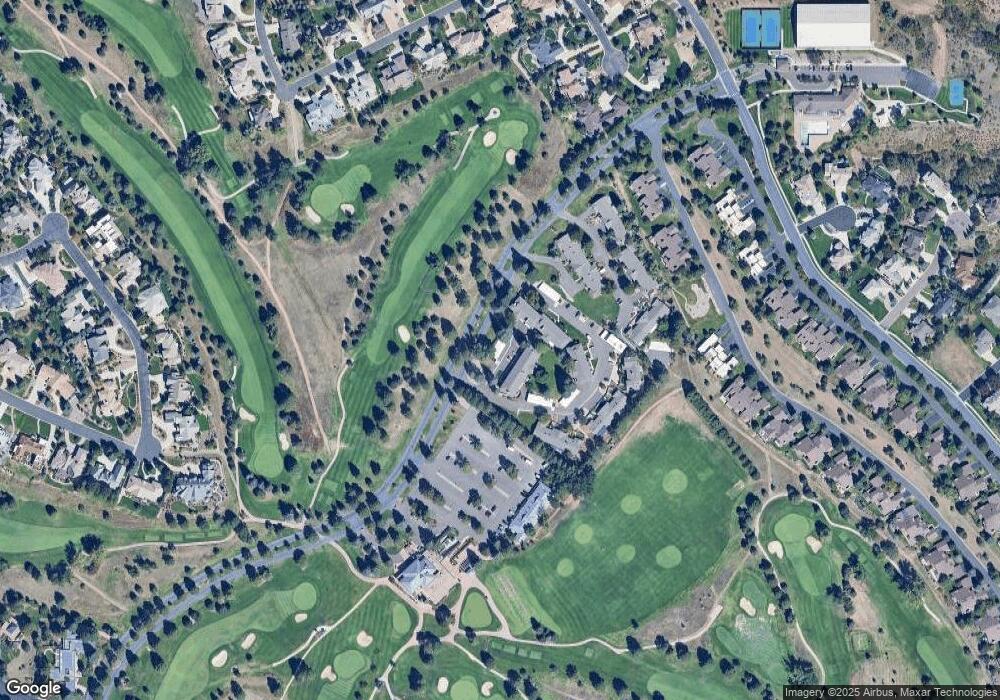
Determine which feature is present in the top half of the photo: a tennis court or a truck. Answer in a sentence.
What appears in the top half of the photo is a tennis court.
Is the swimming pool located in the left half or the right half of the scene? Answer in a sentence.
The swimming pool is on the right side of the image.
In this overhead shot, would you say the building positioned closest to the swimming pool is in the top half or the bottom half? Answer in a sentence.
You can find the building positioned closest to the swimming pool in the top half.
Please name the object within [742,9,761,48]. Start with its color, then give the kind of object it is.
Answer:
blue tennis court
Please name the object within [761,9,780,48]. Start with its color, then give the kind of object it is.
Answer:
blue tennis court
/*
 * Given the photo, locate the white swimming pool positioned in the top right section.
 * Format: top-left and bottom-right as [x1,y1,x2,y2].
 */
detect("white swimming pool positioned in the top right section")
[800,120,828,147]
